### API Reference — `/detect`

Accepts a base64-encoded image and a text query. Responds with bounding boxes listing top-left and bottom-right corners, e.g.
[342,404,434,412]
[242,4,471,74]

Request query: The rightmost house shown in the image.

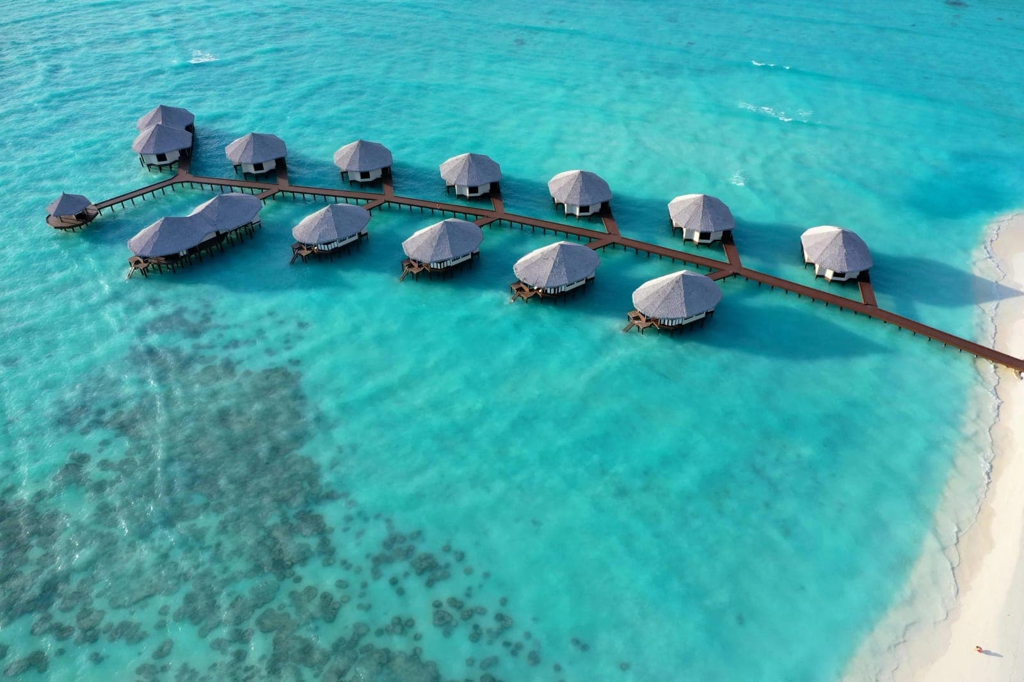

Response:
[797,226,877,290]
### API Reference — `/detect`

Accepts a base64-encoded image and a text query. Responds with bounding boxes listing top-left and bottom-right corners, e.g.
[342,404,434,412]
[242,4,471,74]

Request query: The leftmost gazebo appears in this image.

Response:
[46,189,102,235]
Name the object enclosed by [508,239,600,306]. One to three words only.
house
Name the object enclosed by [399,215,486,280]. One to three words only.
house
